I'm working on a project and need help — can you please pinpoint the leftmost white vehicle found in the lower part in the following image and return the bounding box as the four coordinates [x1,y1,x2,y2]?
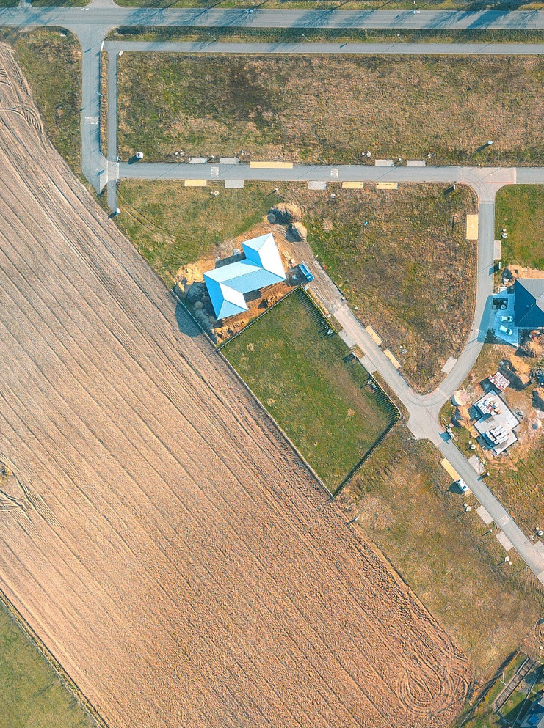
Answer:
[456,479,469,494]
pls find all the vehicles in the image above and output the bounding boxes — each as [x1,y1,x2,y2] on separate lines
[499,324,512,336]
[296,261,313,282]
[500,316,513,322]
[456,479,469,494]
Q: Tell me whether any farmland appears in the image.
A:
Yes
